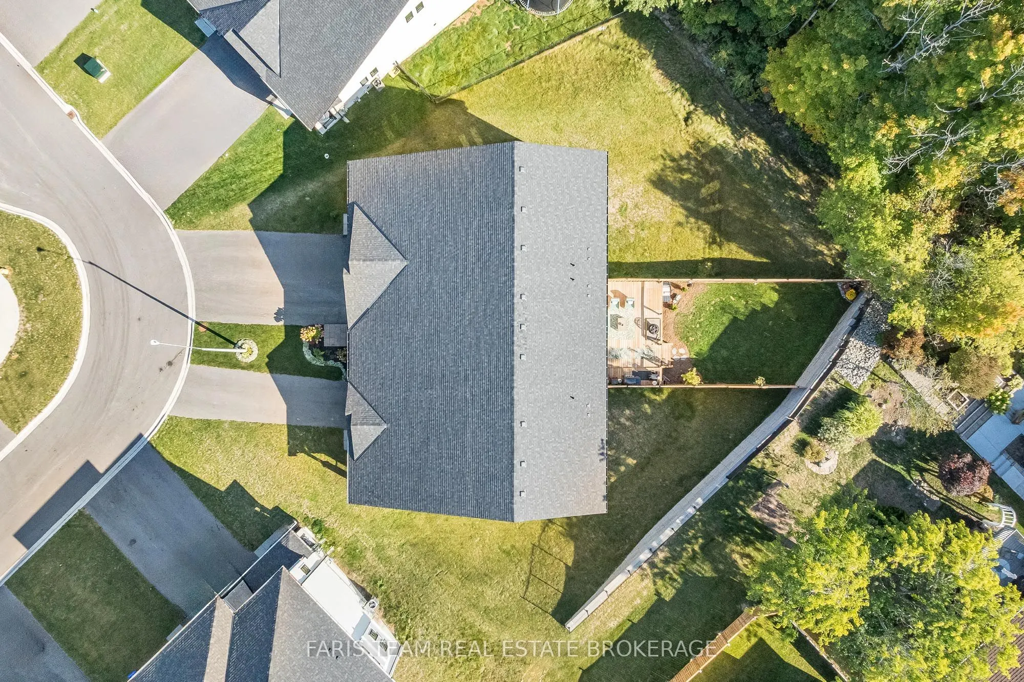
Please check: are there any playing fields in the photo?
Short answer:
No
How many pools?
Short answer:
0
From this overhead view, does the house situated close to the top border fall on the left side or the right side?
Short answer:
left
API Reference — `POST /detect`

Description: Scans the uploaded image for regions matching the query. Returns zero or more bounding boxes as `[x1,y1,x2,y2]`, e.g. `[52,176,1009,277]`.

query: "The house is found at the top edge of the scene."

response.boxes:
[192,0,471,137]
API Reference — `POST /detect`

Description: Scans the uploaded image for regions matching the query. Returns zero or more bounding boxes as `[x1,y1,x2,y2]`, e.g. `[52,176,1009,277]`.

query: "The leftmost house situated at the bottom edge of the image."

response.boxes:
[121,514,404,682]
